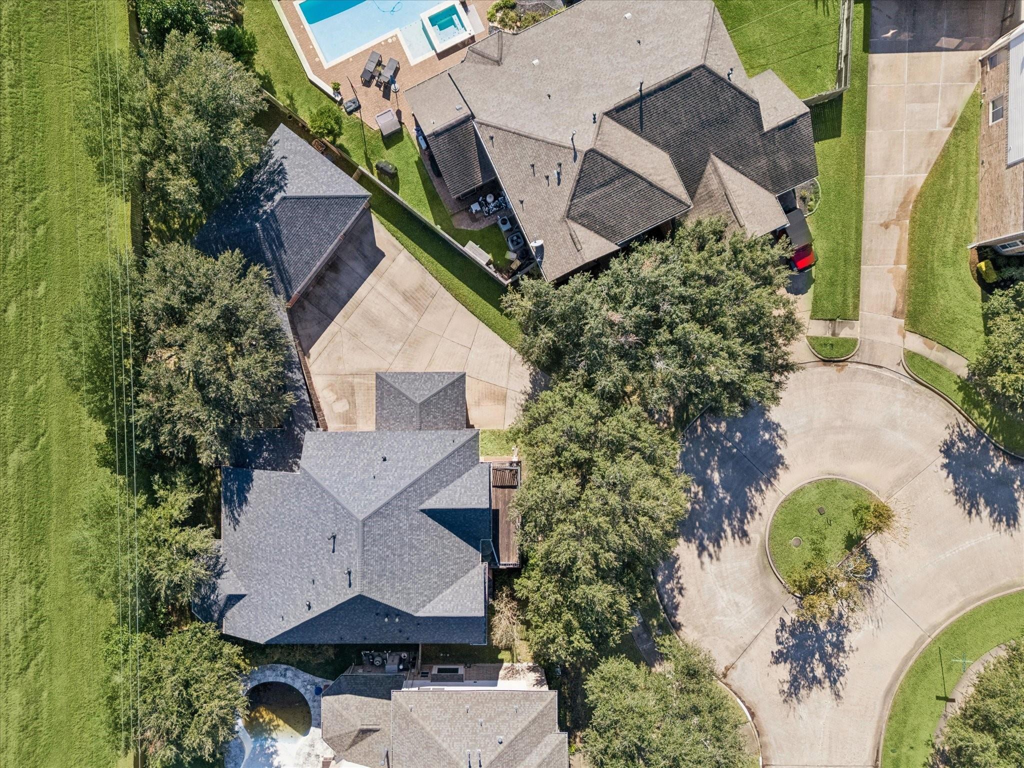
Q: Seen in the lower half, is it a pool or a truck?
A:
pool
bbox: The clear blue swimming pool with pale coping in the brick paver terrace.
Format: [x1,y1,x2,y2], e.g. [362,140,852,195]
[293,0,441,69]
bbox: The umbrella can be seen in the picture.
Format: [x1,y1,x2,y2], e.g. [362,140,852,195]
[387,71,399,92]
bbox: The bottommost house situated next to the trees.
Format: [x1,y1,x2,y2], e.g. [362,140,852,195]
[319,660,570,768]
